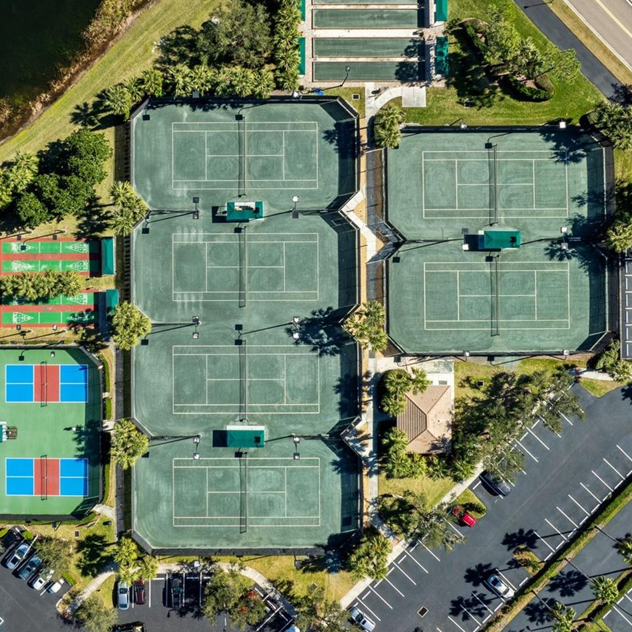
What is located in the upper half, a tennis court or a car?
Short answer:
tennis court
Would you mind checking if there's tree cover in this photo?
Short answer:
Yes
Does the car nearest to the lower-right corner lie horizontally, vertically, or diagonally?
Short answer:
diagonally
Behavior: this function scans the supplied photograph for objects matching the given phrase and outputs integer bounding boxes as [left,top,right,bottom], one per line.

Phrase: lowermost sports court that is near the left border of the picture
[5,455,87,500]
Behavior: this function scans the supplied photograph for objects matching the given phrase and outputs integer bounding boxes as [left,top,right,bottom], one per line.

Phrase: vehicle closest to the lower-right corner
[486,573,514,600]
